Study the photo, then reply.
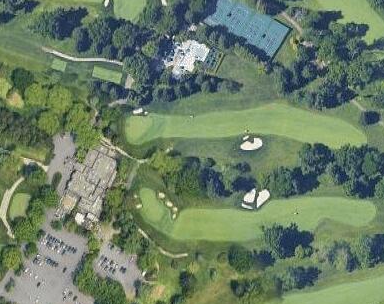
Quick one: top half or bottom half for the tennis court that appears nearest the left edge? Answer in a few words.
top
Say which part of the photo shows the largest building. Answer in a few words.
left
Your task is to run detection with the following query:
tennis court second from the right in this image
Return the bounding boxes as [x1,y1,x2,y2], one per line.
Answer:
[242,11,274,52]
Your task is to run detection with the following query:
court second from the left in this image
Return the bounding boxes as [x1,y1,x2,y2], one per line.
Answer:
[224,2,257,44]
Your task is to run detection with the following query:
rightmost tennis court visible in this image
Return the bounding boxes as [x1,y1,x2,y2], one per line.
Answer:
[258,19,290,60]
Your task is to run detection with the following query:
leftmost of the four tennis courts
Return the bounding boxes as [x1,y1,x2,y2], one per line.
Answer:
[207,0,239,35]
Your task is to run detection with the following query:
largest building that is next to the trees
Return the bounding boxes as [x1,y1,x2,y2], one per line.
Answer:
[57,146,124,218]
